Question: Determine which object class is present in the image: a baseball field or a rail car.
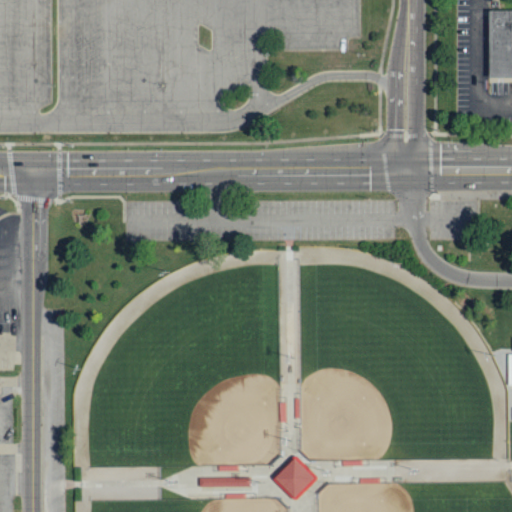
baseball field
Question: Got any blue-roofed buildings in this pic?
No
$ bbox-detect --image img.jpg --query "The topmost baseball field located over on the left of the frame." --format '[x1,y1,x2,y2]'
[89,265,280,478]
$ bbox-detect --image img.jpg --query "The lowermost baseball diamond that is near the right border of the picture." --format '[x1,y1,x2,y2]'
[318,483,512,512]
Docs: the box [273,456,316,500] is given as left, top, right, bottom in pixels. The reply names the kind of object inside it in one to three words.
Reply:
building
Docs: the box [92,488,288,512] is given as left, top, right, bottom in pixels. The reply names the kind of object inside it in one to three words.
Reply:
baseball field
